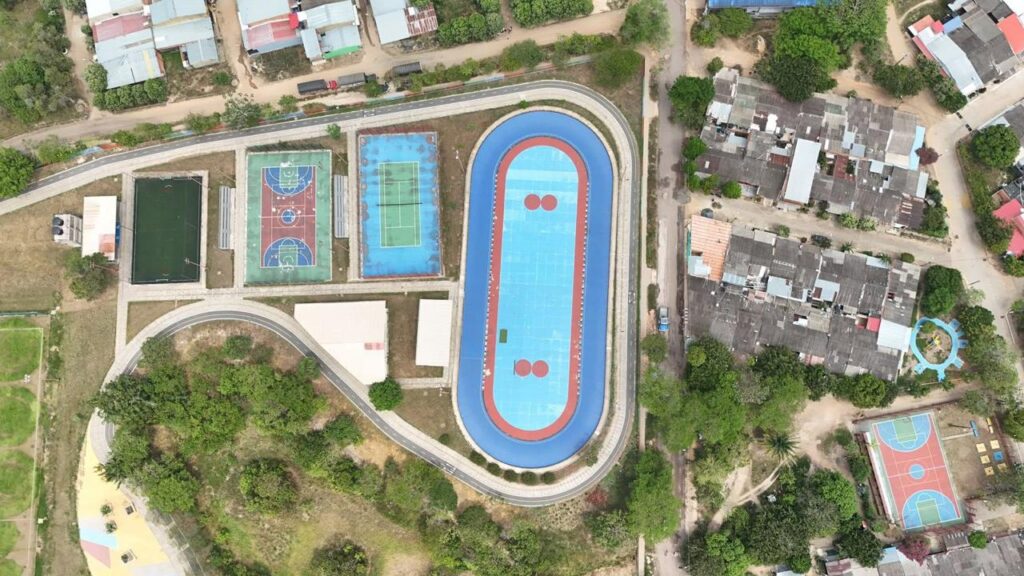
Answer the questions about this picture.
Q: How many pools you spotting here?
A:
0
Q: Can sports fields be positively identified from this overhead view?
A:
Yes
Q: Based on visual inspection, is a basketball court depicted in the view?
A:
Yes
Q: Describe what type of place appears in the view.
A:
residential area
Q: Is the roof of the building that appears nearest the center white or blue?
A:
white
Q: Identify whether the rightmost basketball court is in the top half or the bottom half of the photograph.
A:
bottom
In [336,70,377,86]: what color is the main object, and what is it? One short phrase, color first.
gray vehicle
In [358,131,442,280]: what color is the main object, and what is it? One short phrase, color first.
blue tennis court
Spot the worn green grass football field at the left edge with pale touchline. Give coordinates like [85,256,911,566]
[0,315,43,576]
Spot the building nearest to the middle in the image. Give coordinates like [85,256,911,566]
[416,299,453,366]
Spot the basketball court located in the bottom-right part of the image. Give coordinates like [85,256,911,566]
[867,408,968,536]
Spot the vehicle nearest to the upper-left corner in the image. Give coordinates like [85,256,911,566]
[295,77,337,92]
